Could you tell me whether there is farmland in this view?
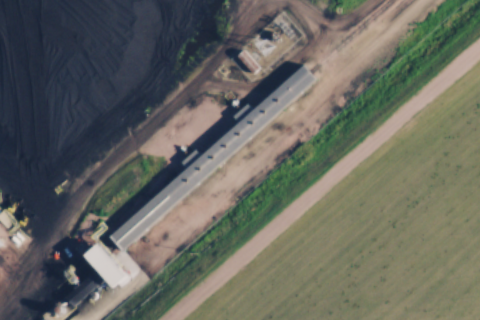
Yes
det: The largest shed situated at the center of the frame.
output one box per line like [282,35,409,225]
[110,65,316,248]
